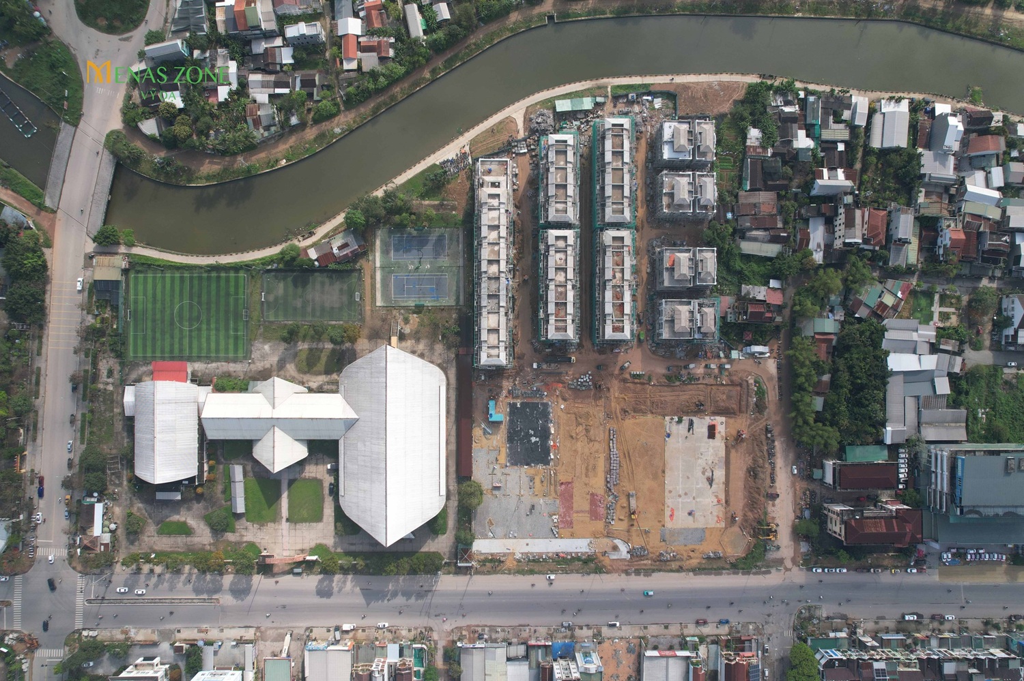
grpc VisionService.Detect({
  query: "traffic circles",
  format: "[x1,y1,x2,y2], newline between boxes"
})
[74,0,150,34]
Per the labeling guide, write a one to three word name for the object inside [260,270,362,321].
soccer field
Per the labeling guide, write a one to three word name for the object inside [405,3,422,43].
house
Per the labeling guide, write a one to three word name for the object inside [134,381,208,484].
building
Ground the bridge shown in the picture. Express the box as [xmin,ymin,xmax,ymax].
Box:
[43,120,119,237]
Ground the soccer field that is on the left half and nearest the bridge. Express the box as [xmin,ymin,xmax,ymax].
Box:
[125,269,248,360]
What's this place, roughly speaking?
residential area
